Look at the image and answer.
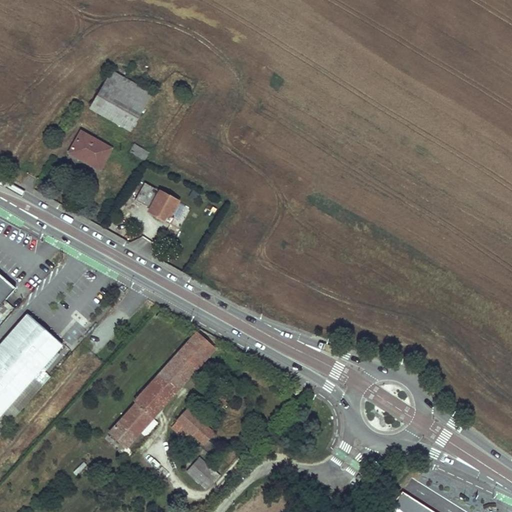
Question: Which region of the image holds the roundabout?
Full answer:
The roundabout is located in the bottom right region of the scene.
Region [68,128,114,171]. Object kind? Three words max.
house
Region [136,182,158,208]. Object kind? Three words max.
building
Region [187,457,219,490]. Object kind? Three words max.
house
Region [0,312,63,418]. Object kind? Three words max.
building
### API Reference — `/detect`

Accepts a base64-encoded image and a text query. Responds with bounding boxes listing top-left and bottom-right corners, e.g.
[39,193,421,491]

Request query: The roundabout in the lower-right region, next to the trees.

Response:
[360,380,416,435]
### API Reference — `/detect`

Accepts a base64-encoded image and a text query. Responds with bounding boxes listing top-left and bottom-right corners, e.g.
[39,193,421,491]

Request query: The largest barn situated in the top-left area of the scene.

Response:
[90,72,152,132]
